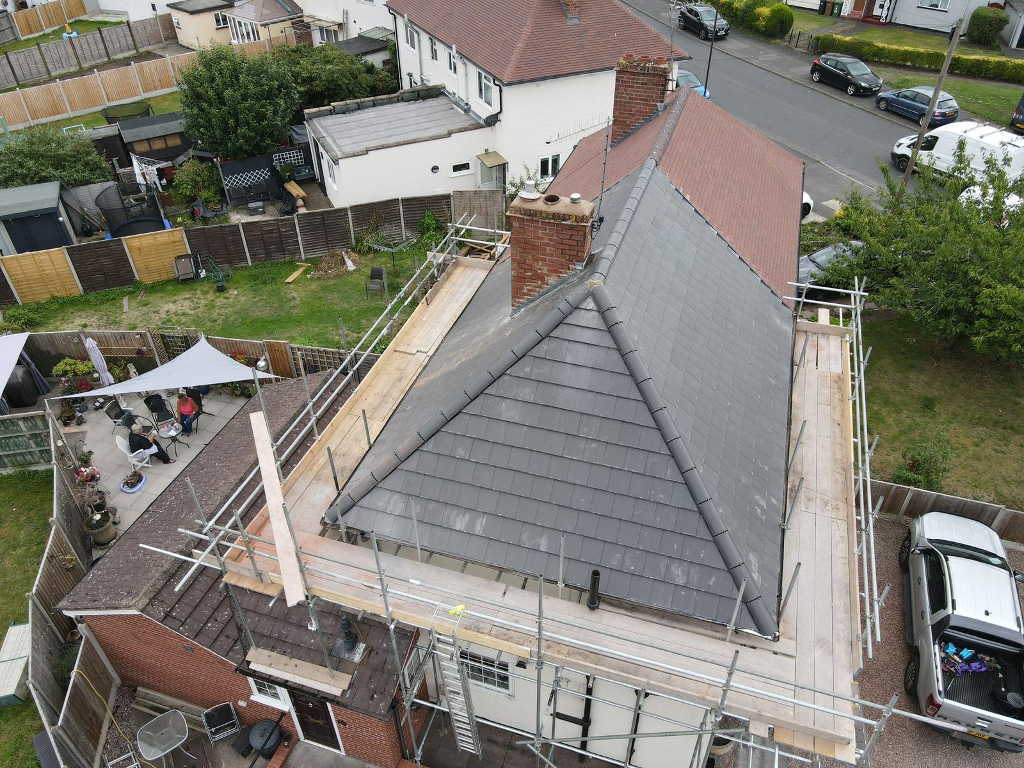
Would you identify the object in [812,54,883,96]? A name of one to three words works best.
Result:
car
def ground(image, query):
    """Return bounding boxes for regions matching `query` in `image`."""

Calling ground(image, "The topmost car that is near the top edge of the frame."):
[680,4,726,39]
